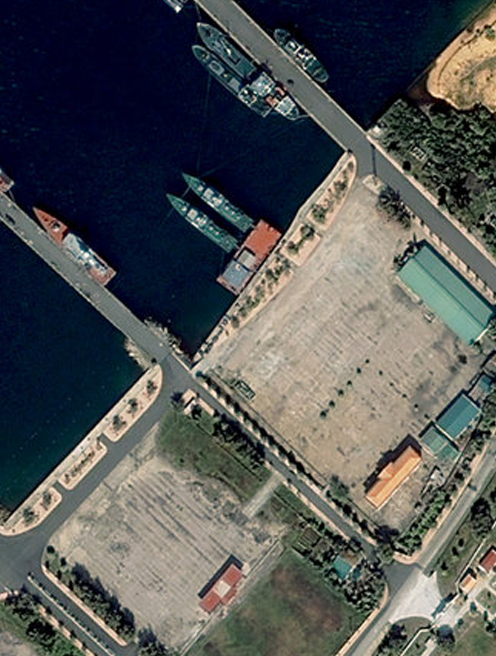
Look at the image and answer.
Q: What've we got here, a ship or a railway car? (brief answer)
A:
ship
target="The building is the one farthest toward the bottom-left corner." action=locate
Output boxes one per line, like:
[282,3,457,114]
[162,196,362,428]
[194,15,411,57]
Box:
[199,565,246,611]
